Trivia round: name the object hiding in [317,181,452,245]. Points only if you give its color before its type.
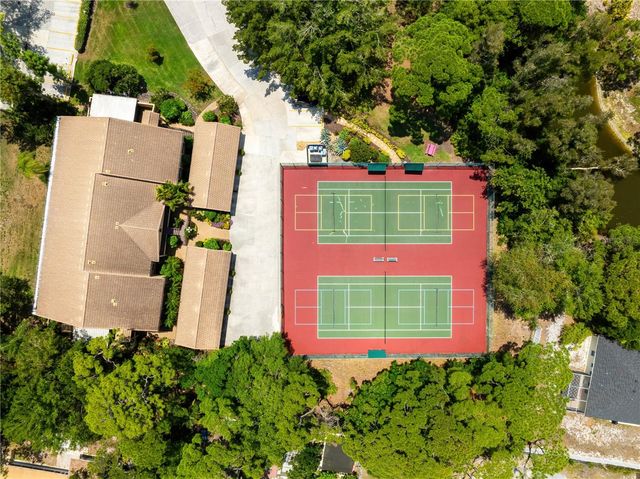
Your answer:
green tennis court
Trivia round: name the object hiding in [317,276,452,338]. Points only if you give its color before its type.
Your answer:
green tennis court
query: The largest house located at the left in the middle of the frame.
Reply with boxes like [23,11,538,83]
[31,117,184,331]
